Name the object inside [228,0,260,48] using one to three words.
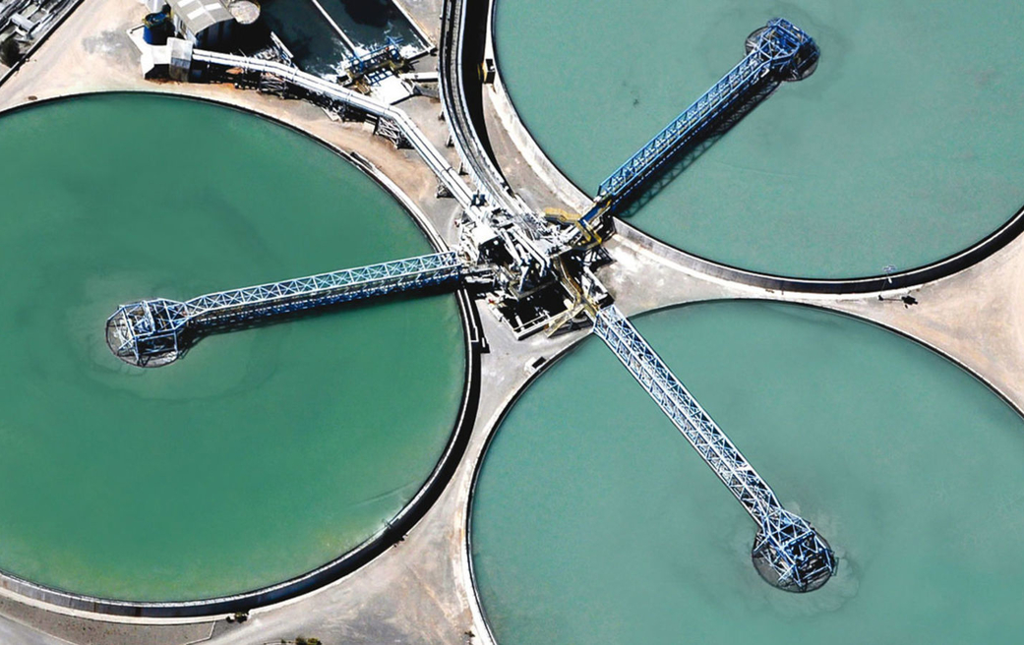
silo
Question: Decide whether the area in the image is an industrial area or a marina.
industrial area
